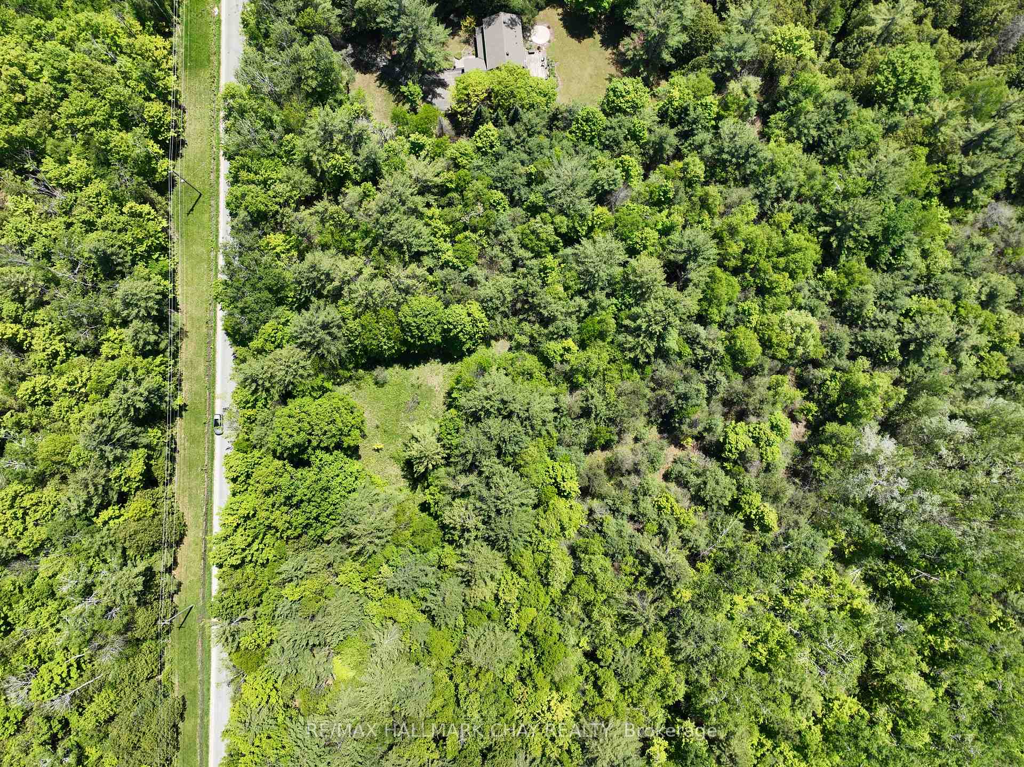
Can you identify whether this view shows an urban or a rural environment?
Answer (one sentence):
The area shown here is rural.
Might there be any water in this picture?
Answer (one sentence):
No, no water is visible.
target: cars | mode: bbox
[212,414,224,436]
